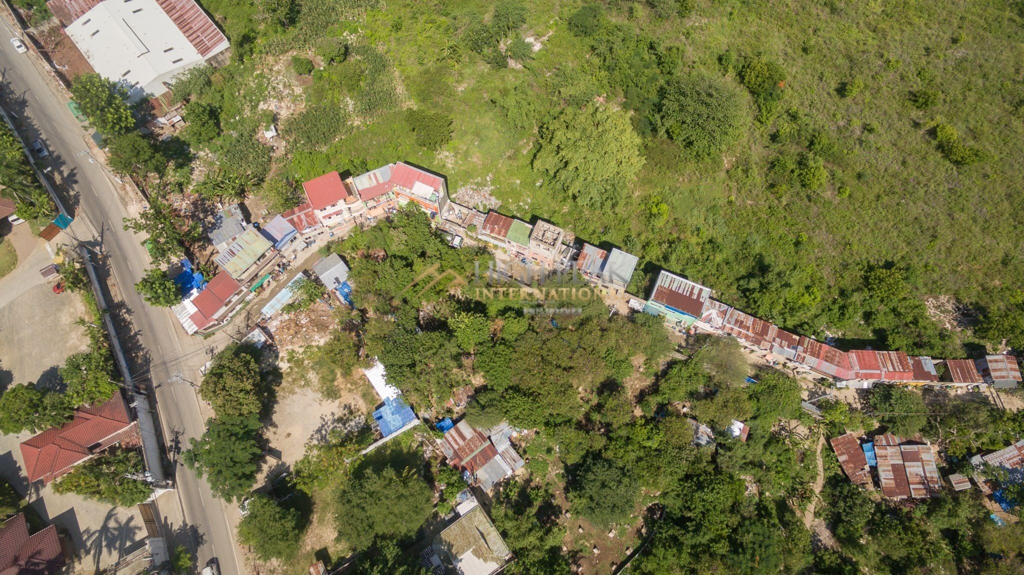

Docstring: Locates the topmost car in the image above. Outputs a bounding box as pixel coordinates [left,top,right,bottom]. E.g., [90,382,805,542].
[10,37,26,55]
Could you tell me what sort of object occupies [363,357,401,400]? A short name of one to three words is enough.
shed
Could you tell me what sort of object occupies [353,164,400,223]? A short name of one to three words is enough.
building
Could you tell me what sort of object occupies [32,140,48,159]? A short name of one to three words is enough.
car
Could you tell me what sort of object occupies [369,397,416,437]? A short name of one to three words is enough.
house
